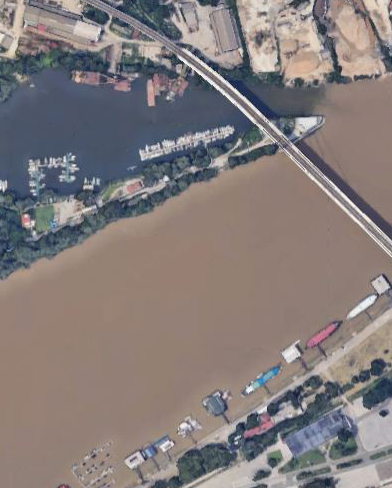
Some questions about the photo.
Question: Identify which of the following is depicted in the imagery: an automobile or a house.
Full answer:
The one in the frame is a house.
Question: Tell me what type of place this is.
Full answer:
What you see here is a port.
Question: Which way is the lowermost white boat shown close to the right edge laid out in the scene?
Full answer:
The lowermost white boat shown close to the right edge runs at an angle in the image.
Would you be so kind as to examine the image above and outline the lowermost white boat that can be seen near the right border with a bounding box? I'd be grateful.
[346,295,377,320]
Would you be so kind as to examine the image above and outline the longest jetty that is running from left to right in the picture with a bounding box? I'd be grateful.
[139,128,239,161]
